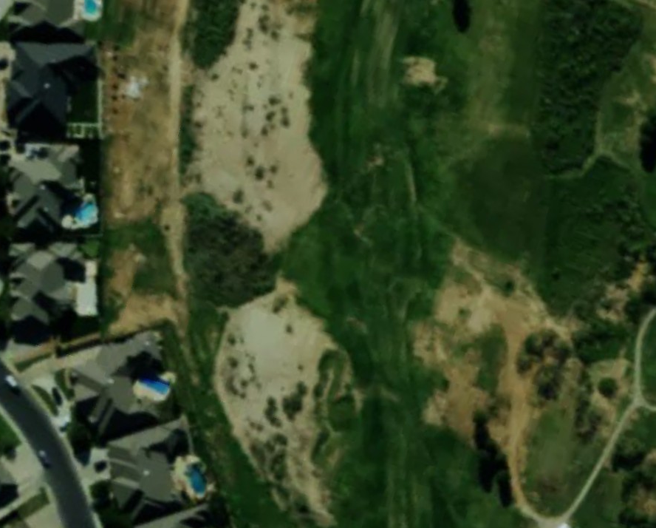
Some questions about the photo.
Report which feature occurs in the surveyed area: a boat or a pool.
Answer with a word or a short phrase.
pool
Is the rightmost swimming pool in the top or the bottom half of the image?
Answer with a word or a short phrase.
bottom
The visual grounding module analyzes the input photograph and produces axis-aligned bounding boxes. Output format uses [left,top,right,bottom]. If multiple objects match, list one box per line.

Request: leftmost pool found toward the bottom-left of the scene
[139,371,176,399]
